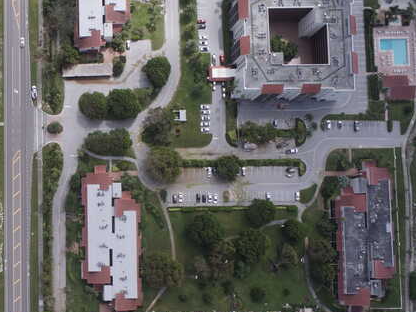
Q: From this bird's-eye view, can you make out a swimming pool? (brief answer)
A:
Yes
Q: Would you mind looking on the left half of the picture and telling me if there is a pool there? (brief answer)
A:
No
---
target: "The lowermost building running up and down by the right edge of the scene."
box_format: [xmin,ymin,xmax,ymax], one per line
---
[329,160,396,312]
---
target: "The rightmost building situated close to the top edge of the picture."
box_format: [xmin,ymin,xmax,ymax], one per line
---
[230,0,359,99]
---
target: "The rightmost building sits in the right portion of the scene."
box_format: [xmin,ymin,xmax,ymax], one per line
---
[380,76,416,100]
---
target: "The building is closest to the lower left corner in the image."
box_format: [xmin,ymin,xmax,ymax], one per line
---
[80,165,143,312]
